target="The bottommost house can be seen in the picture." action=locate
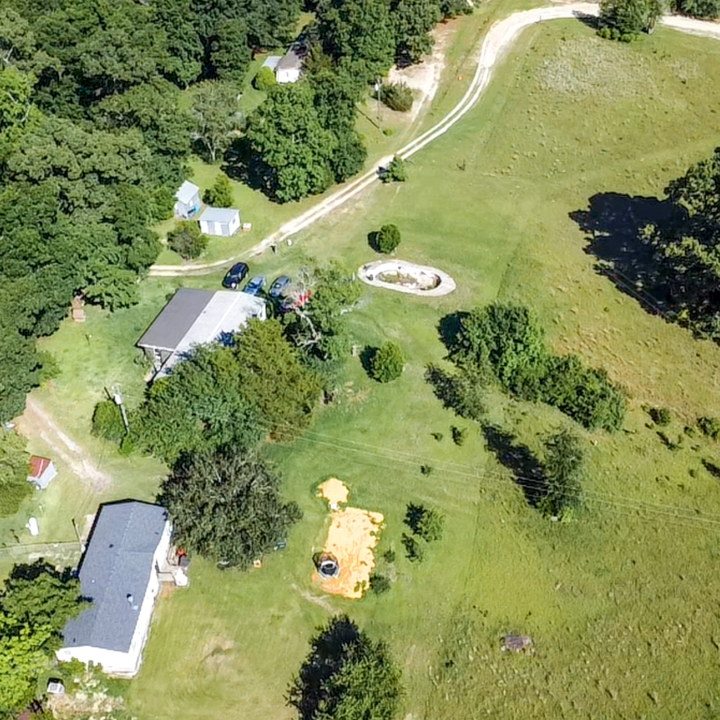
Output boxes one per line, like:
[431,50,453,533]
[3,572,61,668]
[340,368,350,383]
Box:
[58,502,171,678]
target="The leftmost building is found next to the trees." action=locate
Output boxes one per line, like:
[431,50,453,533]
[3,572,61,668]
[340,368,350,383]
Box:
[26,461,59,491]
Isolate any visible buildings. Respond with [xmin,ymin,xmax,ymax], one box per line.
[58,502,171,678]
[199,207,234,237]
[140,278,264,398]
[175,180,202,217]
[266,44,311,87]
[26,461,59,491]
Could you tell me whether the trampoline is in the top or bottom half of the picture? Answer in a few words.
bottom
